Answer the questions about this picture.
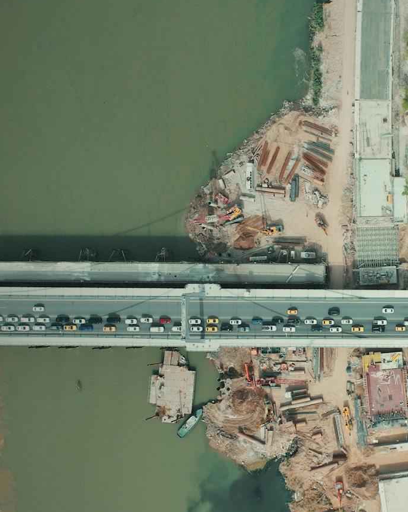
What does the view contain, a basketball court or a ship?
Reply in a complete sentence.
The image shows a ship.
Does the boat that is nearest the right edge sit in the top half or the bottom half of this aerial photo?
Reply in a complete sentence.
Seen from above, the boat that is nearest the right edge lies in the bottom half of the view.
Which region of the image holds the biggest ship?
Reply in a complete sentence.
The biggest ship sits in the bottom section of the image.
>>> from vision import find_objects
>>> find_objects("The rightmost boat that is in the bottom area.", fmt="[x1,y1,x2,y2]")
[176,411,201,438]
